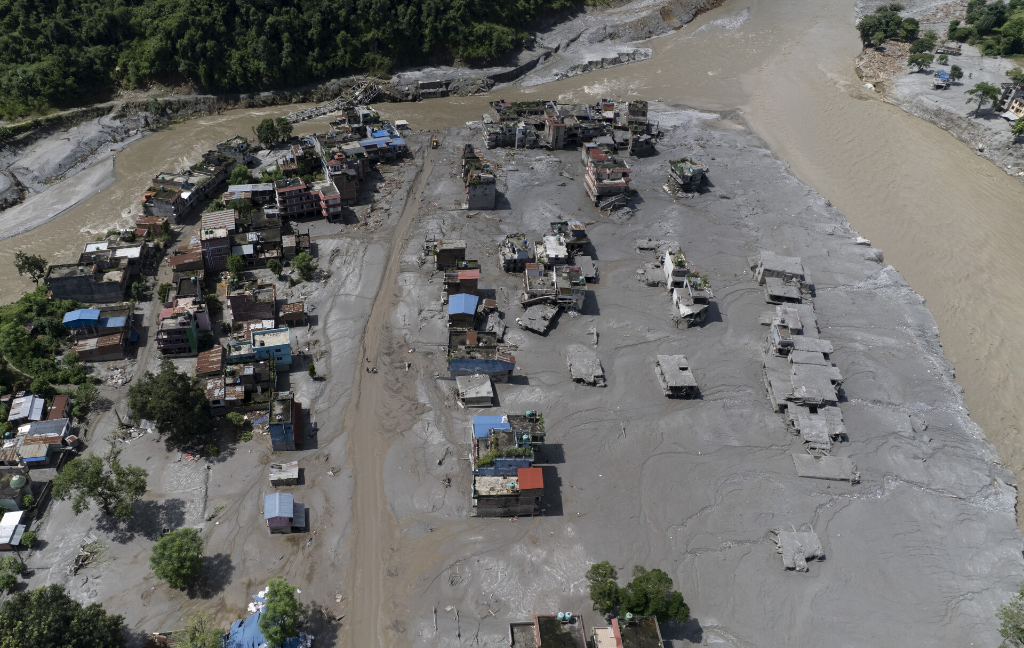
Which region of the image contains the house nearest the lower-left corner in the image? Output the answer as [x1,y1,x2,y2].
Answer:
[0,511,29,558]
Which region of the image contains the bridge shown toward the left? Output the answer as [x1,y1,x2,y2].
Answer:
[286,77,388,123]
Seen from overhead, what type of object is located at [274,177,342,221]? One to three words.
building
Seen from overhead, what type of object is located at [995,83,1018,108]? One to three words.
house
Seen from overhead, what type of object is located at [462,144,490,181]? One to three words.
house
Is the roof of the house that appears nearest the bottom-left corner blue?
No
